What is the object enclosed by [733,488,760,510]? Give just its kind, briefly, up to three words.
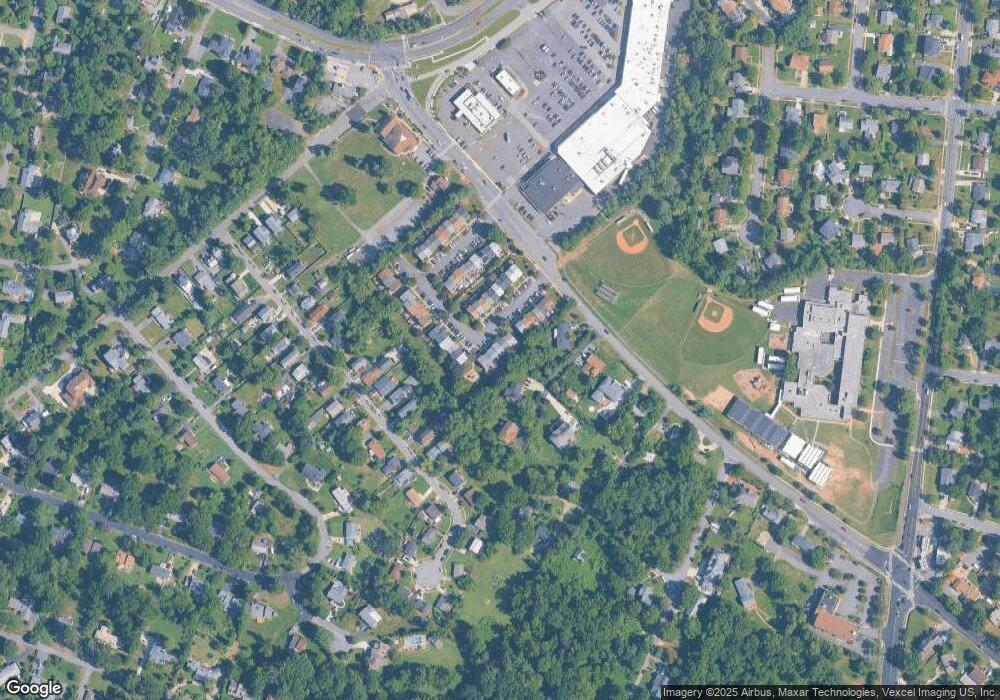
house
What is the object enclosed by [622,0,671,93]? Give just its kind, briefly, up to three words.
building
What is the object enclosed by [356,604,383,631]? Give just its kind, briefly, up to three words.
house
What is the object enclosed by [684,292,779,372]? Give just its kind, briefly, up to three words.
baseball field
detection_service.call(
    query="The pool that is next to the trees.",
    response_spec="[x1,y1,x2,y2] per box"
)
[402,633,428,647]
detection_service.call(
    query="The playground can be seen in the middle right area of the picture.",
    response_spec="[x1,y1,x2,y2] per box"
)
[733,370,777,402]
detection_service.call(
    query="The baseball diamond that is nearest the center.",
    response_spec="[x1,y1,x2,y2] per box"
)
[582,216,677,289]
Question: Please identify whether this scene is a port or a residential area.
residential area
